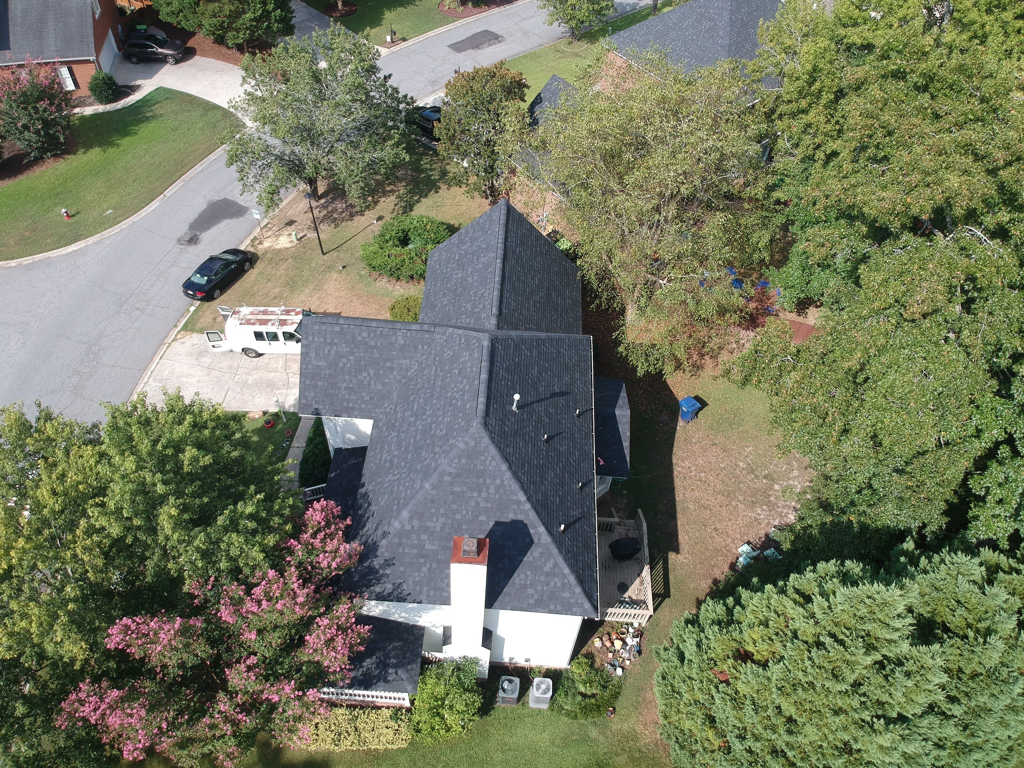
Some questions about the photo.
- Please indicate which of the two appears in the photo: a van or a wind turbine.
van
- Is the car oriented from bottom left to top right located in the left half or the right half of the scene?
left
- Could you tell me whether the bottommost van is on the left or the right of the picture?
left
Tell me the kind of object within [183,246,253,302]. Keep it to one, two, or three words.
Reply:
car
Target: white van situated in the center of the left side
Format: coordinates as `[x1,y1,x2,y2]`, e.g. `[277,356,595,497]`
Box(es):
[205,303,306,358]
